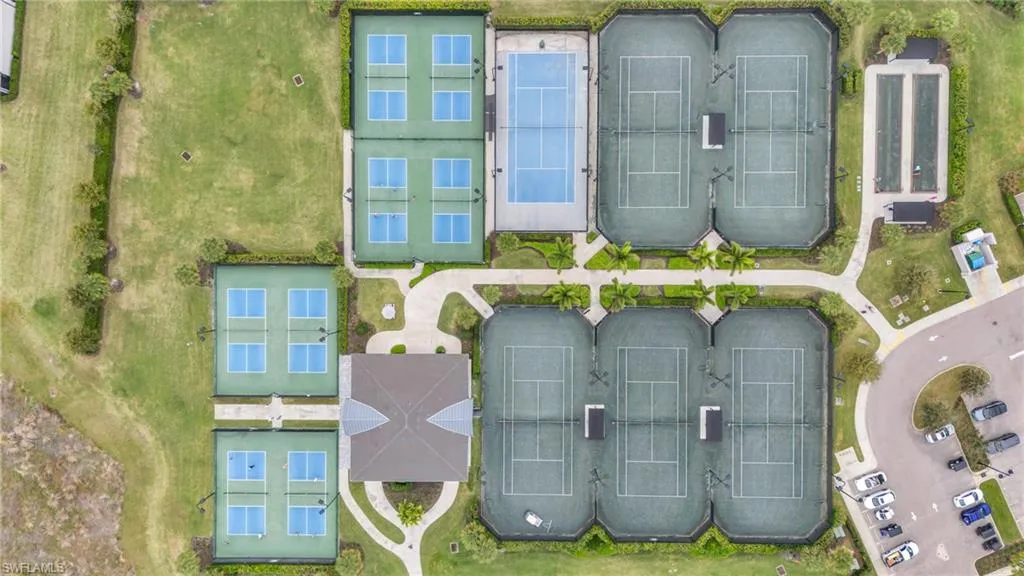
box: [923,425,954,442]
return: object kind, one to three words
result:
car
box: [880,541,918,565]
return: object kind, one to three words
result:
truck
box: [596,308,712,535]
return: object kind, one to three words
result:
tennis court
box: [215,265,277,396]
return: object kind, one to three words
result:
sports court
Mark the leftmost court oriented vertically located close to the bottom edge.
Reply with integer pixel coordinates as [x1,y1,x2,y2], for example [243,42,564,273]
[216,432,277,558]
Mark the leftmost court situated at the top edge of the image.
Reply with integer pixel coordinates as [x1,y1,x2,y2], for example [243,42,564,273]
[354,15,419,138]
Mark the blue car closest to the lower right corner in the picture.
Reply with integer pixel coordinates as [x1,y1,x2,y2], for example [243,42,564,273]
[958,503,991,524]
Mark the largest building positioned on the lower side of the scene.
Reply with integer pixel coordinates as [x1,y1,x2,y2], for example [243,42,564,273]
[340,353,474,481]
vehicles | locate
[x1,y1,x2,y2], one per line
[874,506,895,521]
[945,456,968,470]
[981,536,1003,551]
[974,522,996,537]
[951,487,983,507]
[958,503,991,524]
[855,471,887,490]
[525,510,542,528]
[971,401,1008,420]
[983,431,1022,452]
[863,489,896,509]
[878,522,902,538]
[923,425,954,442]
[880,541,918,565]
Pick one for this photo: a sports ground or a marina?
sports ground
